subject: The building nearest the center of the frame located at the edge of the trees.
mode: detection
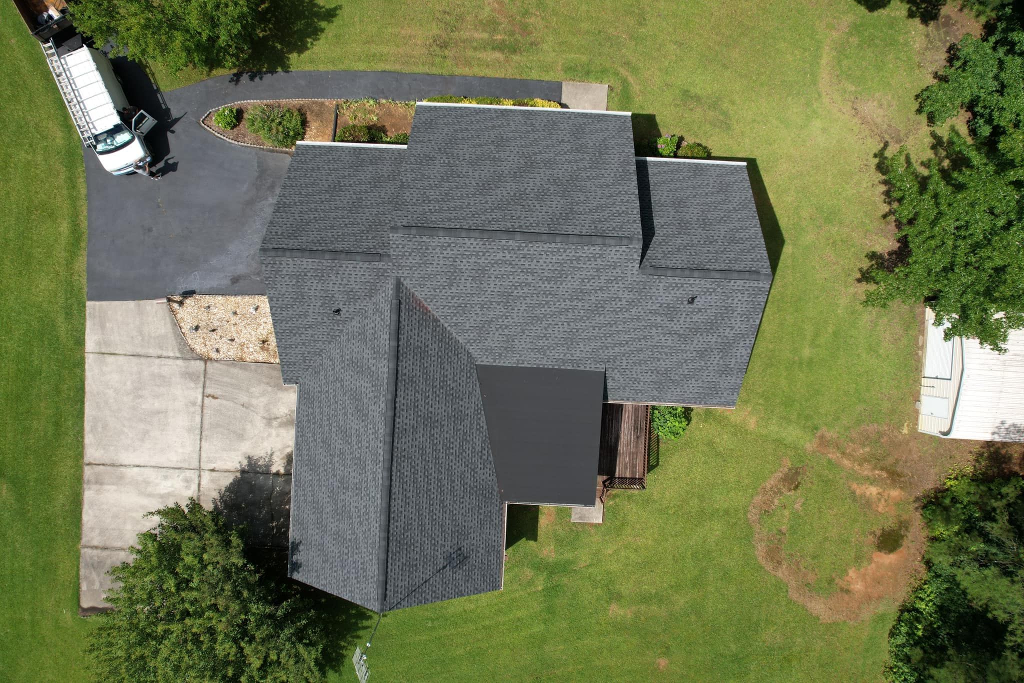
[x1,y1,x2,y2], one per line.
[261,99,773,612]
